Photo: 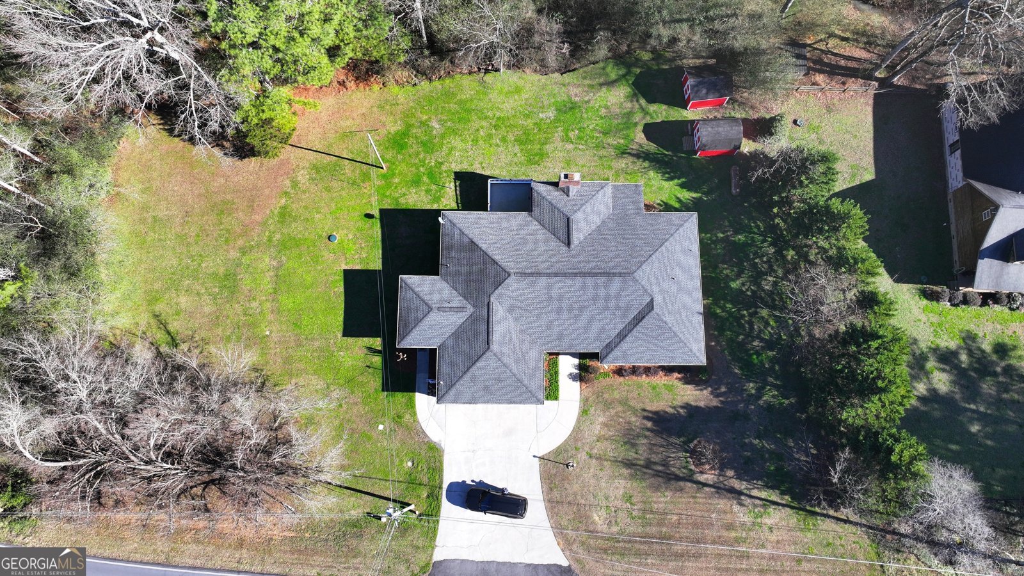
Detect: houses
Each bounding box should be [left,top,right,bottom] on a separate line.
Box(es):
[394,172,708,405]
[934,58,1024,294]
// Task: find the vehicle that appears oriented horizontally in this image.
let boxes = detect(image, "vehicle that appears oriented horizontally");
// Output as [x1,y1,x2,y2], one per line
[466,487,529,520]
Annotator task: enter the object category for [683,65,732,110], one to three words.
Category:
shed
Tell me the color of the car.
black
